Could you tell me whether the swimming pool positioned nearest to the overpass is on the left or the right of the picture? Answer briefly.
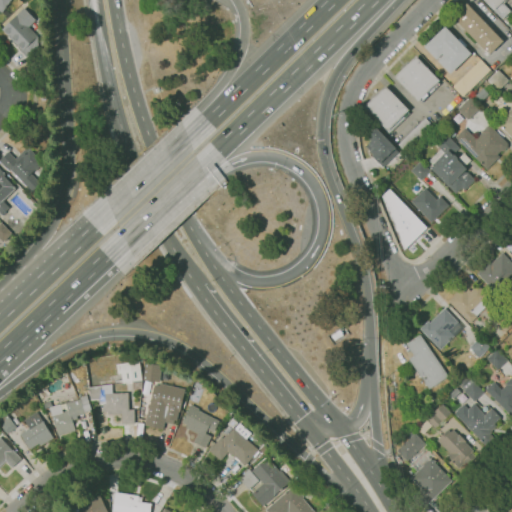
left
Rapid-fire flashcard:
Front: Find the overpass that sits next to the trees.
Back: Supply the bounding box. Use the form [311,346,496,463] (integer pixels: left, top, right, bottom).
[84,108,236,274]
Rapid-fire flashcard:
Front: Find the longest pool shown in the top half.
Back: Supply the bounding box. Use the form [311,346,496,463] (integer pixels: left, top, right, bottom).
[10,194,30,216]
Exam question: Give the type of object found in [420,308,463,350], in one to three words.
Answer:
house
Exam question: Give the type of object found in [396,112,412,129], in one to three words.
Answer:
vehicle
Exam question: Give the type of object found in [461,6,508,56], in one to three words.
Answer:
building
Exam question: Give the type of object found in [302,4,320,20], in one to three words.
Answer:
vehicle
